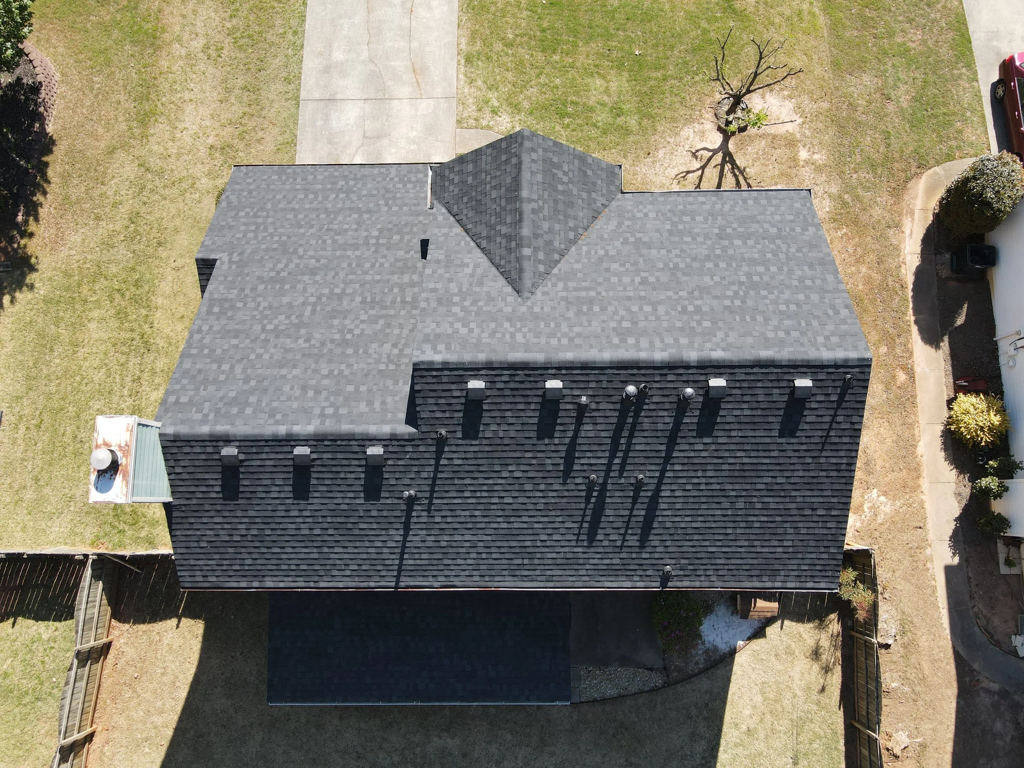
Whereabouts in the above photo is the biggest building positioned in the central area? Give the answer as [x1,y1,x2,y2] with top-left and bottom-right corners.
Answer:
[85,128,874,711]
